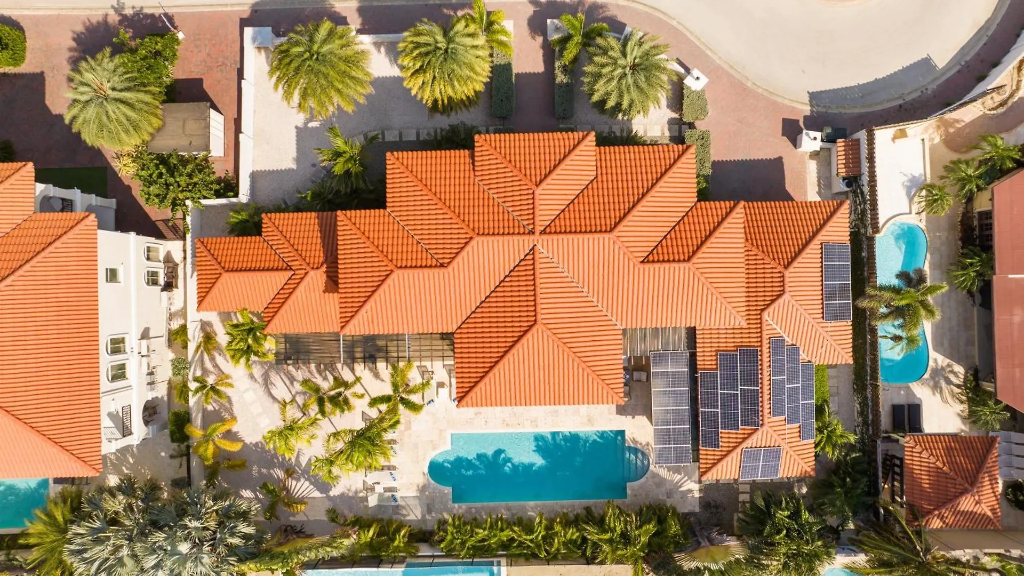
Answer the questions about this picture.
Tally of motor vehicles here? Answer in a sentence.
The picture shows no motor vehicles.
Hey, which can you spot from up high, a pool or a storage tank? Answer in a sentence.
The one in the frame is a pool.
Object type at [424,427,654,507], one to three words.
swimming pool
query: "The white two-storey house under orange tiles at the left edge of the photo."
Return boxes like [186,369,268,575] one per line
[0,160,170,478]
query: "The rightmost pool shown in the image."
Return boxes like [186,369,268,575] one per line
[877,219,932,386]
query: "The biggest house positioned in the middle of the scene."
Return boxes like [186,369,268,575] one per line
[194,130,854,486]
